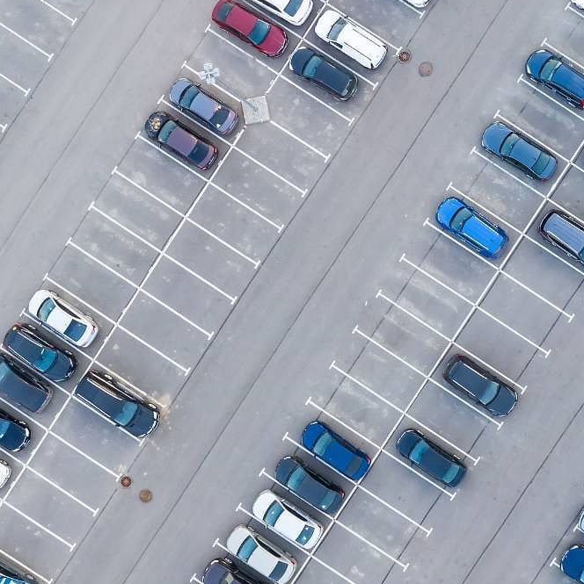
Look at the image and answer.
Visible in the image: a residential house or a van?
van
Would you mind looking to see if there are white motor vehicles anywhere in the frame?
Yes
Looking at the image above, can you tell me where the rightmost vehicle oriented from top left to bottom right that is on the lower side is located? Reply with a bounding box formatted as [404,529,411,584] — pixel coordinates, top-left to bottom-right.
[443,354,519,415]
